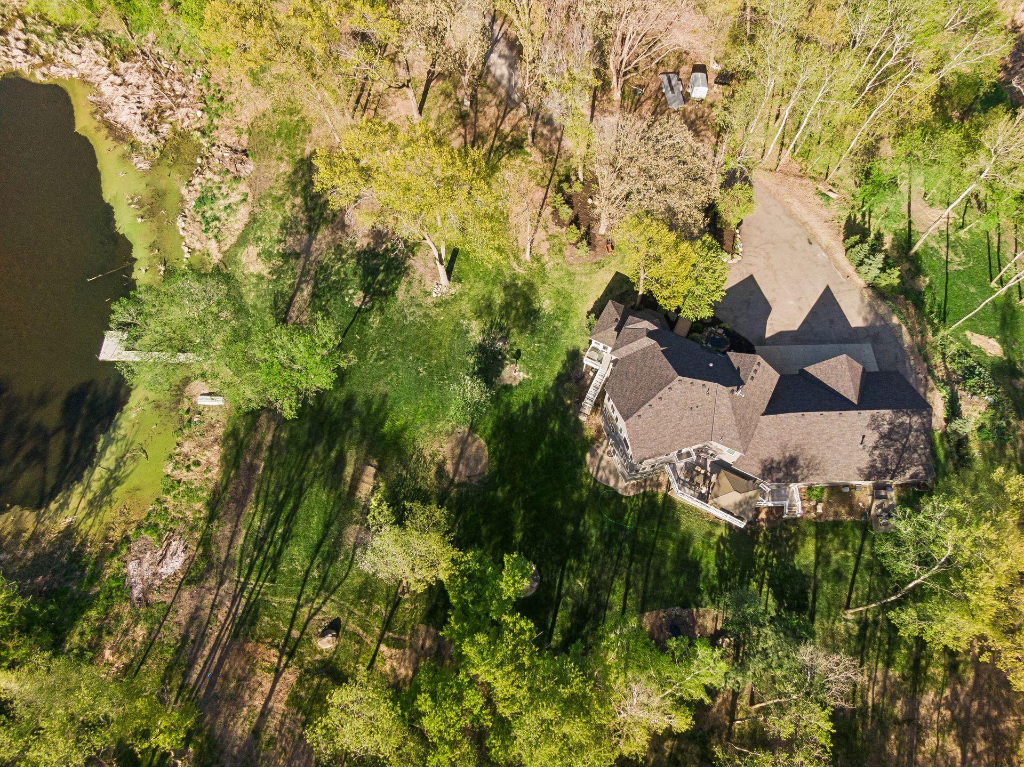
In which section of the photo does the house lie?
right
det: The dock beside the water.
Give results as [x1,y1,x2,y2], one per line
[99,330,188,363]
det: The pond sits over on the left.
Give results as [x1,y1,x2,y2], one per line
[0,73,142,517]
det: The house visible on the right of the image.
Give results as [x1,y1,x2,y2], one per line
[577,300,935,529]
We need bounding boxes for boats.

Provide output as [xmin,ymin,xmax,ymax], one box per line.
[195,393,225,405]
